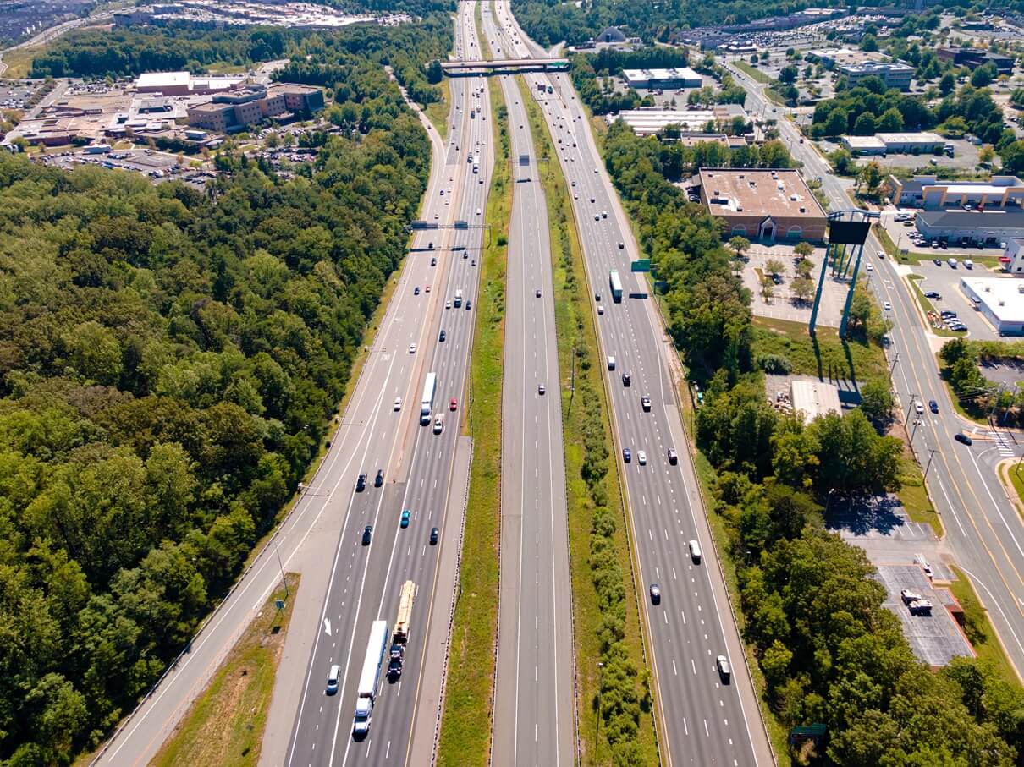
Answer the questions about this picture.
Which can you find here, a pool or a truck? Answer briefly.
truck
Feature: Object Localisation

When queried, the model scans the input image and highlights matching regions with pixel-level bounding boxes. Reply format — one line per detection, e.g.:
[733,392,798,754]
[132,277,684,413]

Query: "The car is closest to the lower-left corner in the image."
[324,666,340,693]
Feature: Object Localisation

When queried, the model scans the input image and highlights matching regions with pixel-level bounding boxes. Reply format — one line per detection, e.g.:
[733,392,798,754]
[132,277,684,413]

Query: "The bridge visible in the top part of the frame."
[449,58,573,73]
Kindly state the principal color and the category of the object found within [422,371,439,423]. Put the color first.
white vehicle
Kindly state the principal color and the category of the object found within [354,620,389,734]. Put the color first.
white truck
